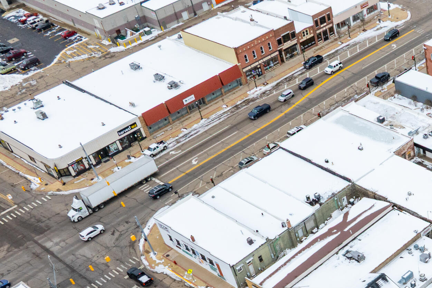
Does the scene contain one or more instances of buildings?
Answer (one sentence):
Yes, there is a building in the image.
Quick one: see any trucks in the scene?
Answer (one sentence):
Yes, a truck appears in the view.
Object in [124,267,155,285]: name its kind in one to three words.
vehicle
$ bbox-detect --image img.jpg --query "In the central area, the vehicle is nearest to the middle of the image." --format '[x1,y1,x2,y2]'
[237,156,260,168]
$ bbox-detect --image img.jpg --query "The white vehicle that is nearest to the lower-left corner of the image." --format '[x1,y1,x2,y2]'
[79,225,106,241]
